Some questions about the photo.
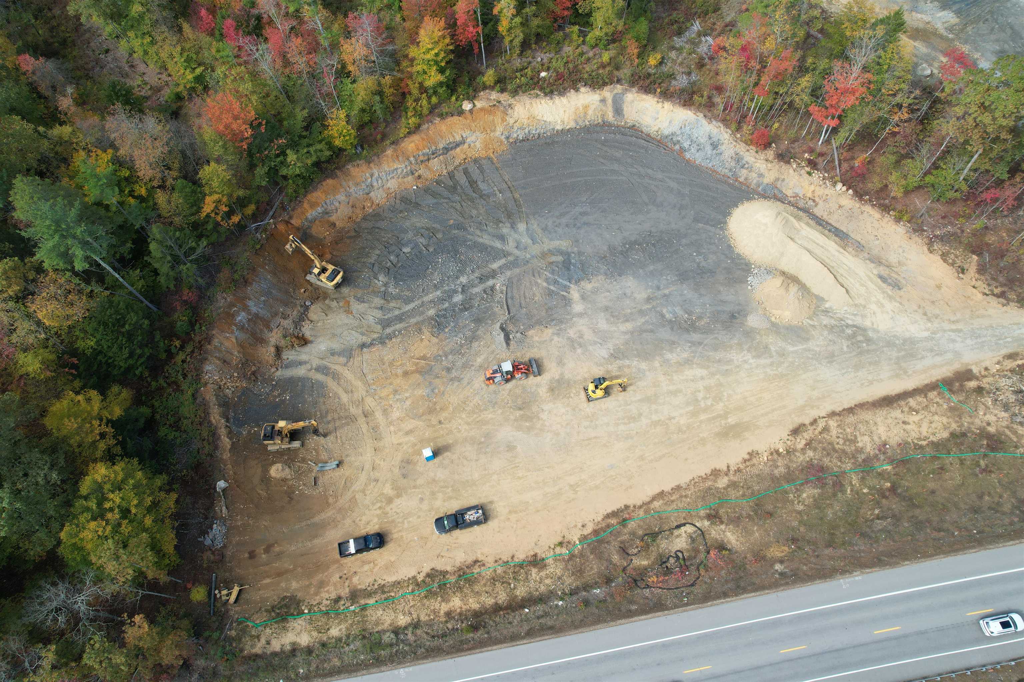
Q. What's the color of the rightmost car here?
white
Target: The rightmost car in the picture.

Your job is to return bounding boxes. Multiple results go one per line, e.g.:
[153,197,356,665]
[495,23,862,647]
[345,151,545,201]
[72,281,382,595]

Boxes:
[980,615,1024,639]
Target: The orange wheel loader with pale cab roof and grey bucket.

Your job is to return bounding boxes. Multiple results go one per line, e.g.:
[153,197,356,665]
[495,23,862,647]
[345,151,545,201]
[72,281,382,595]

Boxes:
[484,357,543,387]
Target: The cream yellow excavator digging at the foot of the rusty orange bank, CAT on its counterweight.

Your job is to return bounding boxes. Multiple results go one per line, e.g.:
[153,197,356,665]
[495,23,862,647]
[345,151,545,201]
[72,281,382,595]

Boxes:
[292,237,348,289]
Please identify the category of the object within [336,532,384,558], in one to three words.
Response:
truck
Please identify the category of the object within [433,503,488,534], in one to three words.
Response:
truck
